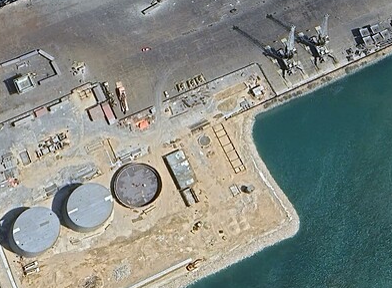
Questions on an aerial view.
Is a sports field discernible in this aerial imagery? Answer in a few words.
No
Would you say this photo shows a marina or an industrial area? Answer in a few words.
industrial area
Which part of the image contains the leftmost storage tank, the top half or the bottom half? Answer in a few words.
bottom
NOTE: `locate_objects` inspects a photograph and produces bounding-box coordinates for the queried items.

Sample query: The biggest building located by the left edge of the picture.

[10,74,34,97]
